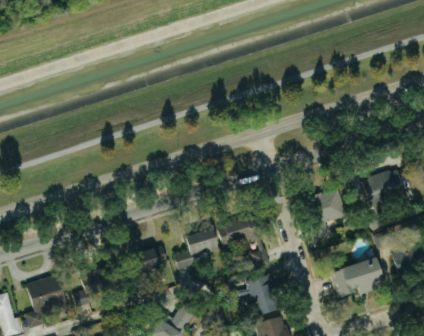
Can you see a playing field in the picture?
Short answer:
No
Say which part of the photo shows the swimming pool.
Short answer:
bottom right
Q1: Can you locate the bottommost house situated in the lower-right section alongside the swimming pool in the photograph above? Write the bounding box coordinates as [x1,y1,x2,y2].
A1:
[328,258,384,298]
